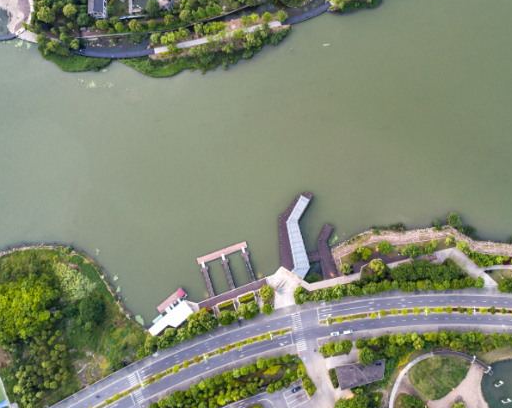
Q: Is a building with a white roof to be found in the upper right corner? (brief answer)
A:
No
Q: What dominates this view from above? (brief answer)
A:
water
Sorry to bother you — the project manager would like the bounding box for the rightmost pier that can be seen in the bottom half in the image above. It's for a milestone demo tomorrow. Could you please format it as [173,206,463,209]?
[308,223,339,279]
